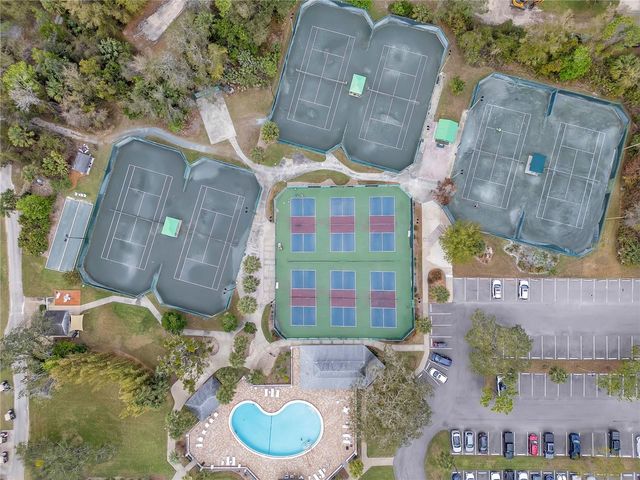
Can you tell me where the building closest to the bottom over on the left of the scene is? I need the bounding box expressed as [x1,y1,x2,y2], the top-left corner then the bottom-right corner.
[185,375,228,421]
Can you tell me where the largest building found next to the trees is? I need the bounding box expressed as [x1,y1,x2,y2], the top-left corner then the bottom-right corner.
[299,344,382,389]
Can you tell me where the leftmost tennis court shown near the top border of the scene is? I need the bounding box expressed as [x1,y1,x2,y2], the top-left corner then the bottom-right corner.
[269,4,372,153]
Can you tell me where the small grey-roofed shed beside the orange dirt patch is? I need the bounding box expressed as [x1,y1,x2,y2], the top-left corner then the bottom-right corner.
[73,152,95,174]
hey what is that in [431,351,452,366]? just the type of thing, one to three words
car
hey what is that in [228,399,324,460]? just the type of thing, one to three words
swimming pool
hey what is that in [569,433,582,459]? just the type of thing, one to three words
vehicle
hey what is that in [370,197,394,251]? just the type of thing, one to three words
sports court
